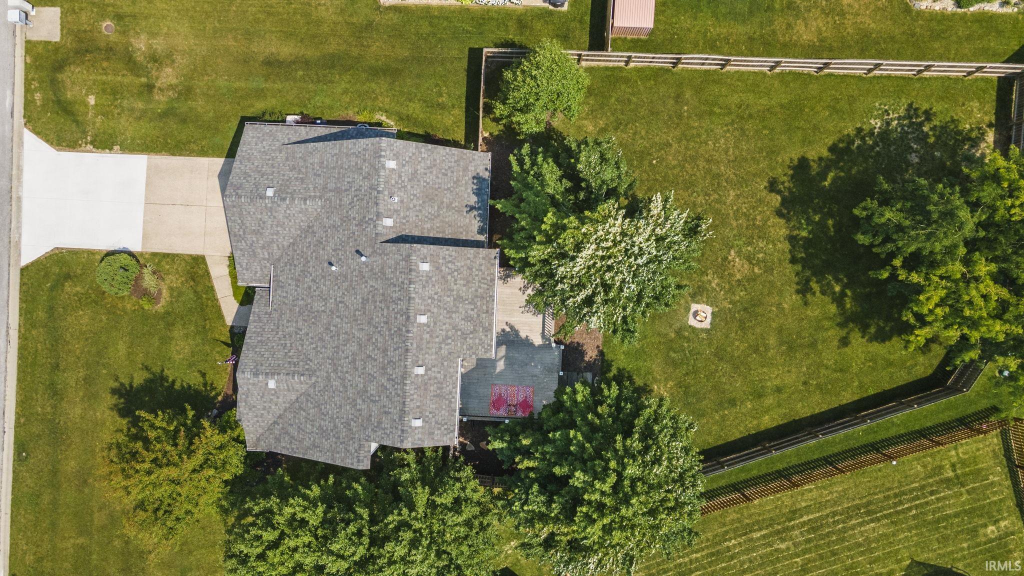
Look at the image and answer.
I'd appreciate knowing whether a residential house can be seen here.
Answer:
Yes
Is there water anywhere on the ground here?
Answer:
No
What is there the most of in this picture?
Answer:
grass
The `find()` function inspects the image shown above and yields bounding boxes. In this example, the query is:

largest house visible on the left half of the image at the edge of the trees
[222,122,500,470]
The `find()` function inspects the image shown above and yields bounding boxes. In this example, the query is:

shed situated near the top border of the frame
[611,0,656,38]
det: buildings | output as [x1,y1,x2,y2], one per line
[611,0,656,38]
[222,122,500,470]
